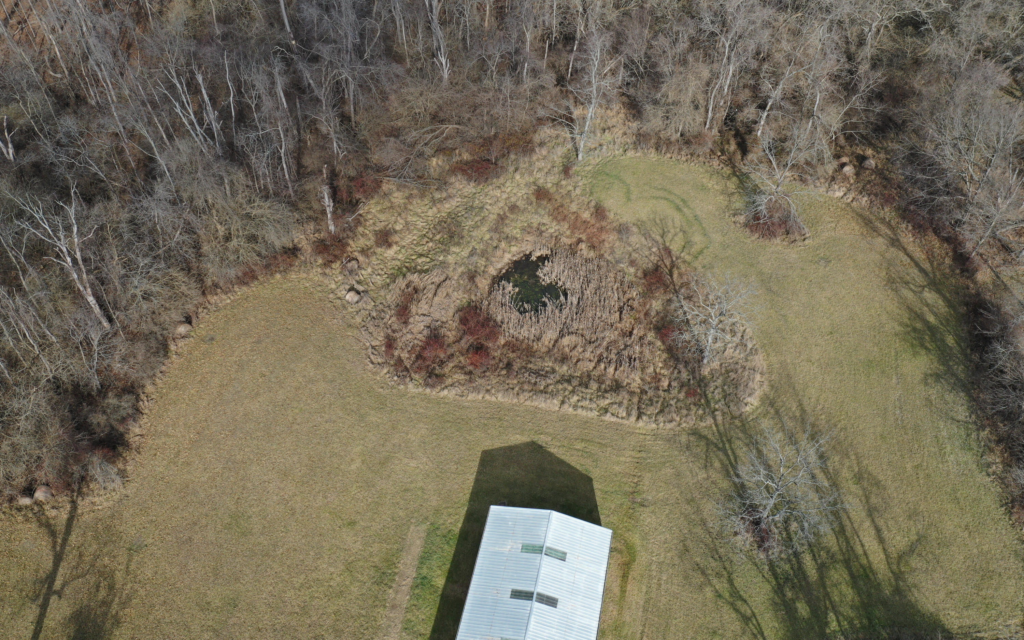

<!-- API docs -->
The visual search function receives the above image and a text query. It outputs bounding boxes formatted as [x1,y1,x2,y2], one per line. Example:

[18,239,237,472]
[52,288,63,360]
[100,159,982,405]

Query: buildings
[452,504,614,640]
